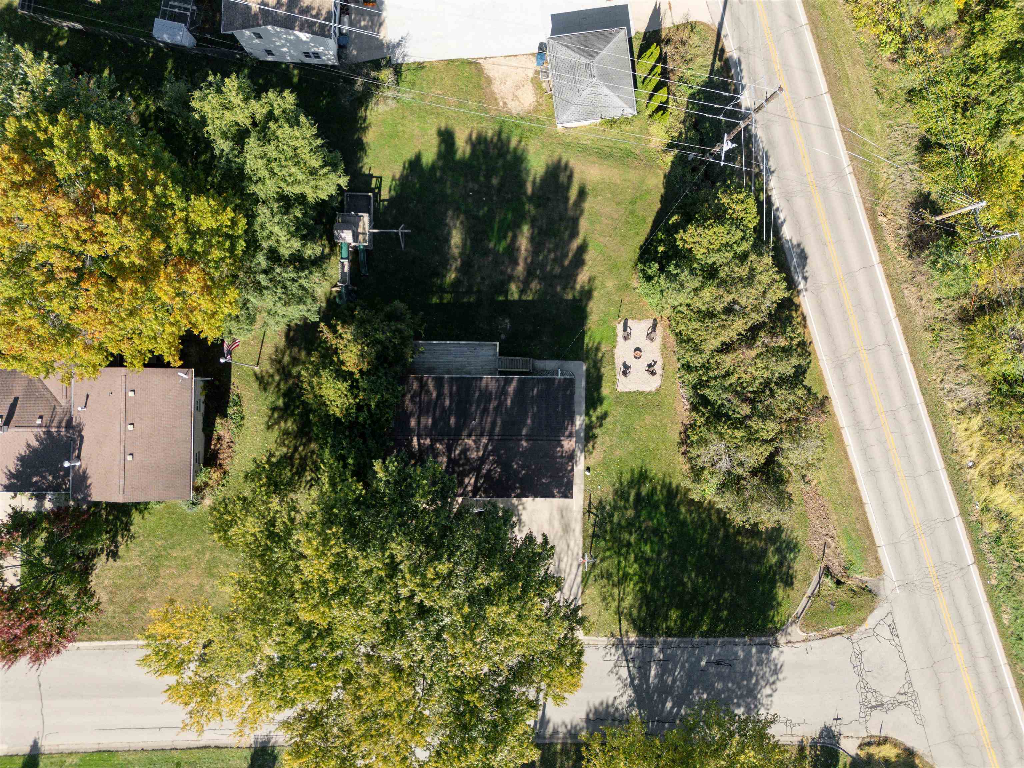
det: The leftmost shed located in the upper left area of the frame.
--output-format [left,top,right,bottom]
[153,18,200,60]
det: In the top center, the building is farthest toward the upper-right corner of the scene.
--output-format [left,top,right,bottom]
[546,26,638,131]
